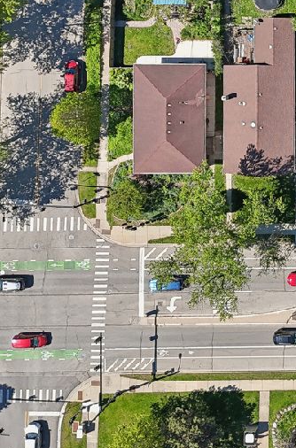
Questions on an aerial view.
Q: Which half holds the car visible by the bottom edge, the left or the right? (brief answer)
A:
left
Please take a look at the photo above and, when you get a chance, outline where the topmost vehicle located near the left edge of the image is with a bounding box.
[0,275,27,291]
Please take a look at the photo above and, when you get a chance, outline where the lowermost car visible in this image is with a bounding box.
[24,422,44,448]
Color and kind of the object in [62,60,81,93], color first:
red car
